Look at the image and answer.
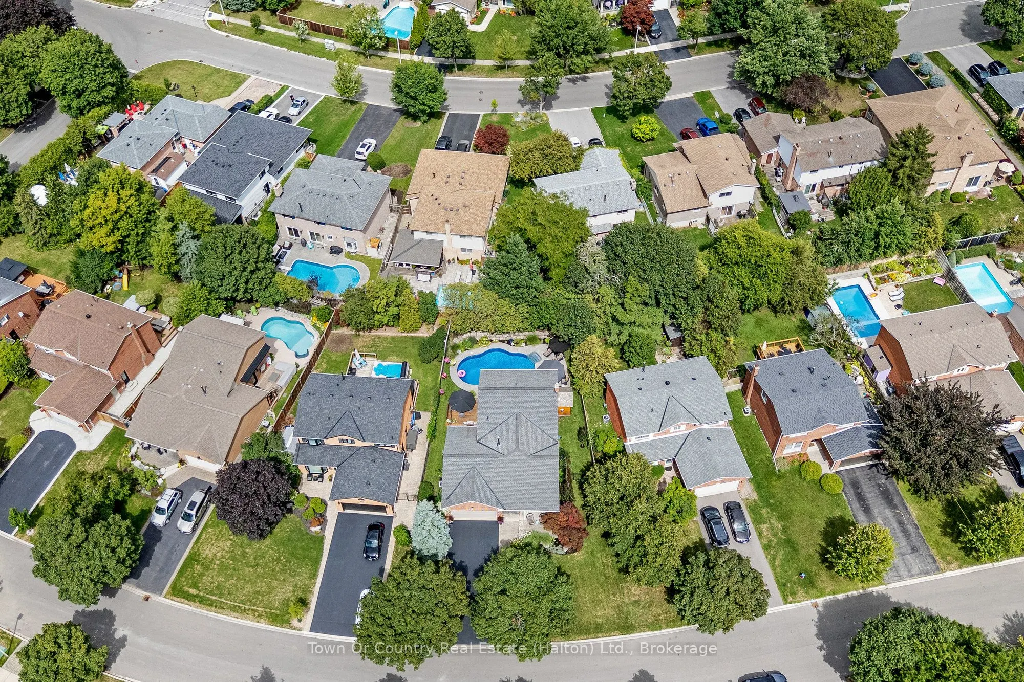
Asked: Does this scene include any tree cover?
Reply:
Yes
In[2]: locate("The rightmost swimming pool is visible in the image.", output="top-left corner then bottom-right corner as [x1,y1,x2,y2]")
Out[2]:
[954,259,1018,314]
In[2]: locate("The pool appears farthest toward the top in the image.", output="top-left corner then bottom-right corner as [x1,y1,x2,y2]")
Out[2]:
[379,4,417,39]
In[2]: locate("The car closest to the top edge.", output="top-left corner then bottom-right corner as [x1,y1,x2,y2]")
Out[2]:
[649,14,662,38]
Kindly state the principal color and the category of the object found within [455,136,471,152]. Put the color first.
gray vehicle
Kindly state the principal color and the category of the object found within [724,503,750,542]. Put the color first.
gray car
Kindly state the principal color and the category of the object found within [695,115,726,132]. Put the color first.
blue vehicle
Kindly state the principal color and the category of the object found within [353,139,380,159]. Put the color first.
white car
